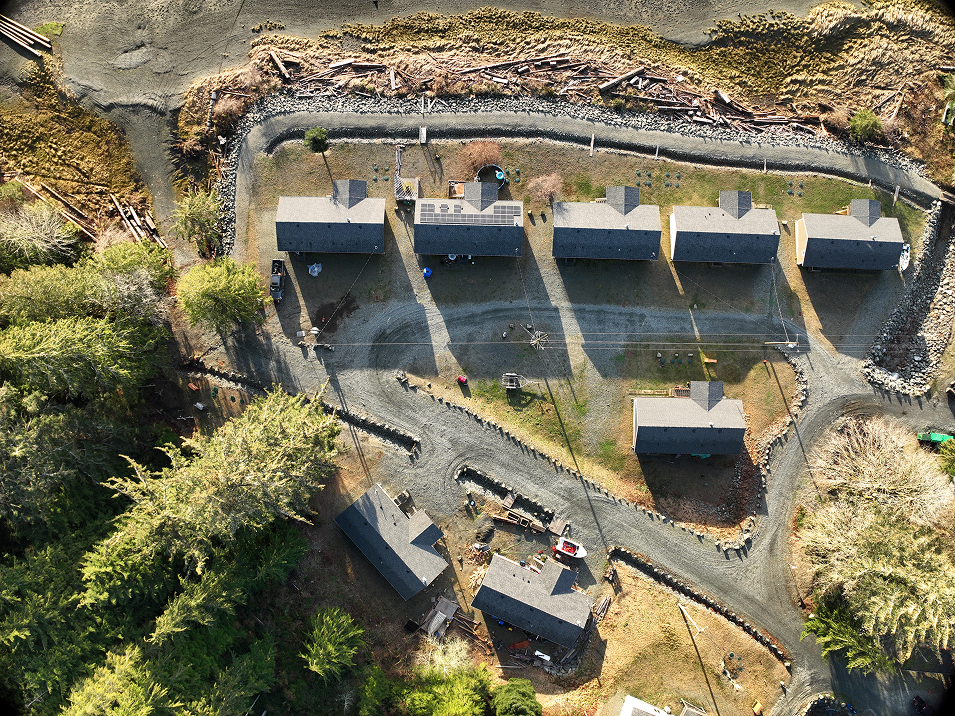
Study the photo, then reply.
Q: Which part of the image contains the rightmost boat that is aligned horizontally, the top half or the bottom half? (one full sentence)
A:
Seen from above, the rightmost boat that is aligned horizontally lies in the bottom half of the view.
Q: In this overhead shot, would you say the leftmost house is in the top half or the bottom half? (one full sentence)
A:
The leftmost house sits in the top half of the picture.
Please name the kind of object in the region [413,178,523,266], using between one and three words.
house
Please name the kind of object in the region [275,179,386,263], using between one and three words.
house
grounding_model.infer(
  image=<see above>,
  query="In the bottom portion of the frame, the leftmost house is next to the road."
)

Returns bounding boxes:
[335,483,449,601]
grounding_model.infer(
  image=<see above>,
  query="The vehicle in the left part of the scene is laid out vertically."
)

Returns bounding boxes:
[269,257,287,302]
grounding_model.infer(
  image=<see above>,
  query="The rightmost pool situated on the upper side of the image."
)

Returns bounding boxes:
[473,157,504,184]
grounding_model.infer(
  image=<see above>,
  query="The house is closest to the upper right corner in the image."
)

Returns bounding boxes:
[795,200,907,279]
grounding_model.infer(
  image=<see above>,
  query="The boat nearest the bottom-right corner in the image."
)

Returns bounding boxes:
[551,537,588,557]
